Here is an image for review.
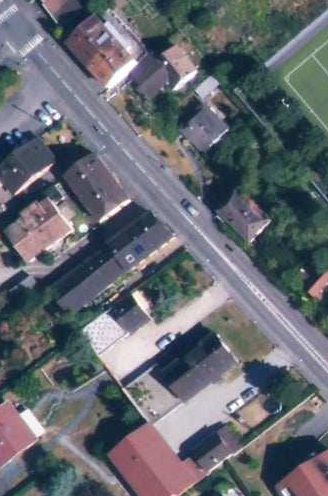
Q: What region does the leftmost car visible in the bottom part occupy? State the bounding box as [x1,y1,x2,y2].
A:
[157,333,174,348]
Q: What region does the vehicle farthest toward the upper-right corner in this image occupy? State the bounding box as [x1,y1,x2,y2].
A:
[181,199,198,215]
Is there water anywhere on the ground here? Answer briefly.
No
